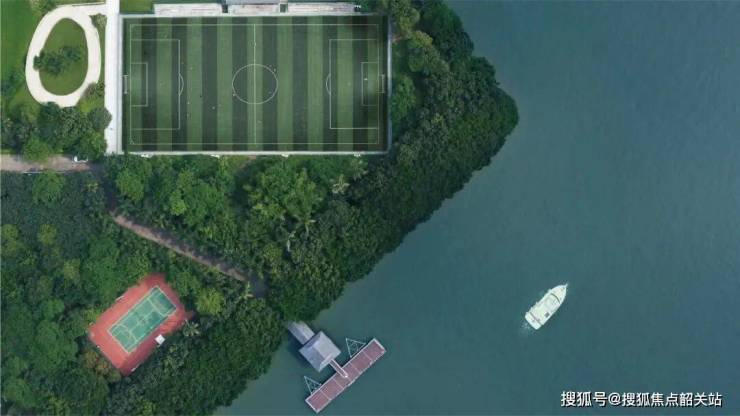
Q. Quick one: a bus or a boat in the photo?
boat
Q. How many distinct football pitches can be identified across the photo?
1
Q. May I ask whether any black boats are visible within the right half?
No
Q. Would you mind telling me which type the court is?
tennis court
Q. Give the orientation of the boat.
on a diagonal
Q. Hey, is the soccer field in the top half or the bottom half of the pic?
top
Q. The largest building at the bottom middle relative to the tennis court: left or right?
to the right of it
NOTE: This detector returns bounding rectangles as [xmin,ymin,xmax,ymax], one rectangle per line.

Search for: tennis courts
[88,269,194,375]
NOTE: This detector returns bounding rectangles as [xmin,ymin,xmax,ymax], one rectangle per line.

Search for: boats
[525,284,568,329]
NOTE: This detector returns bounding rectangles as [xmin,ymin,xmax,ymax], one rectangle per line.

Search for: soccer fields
[119,13,391,155]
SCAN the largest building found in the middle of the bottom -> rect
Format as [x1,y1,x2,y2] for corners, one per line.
[300,331,340,372]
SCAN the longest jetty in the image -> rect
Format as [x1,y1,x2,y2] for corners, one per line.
[306,338,386,413]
